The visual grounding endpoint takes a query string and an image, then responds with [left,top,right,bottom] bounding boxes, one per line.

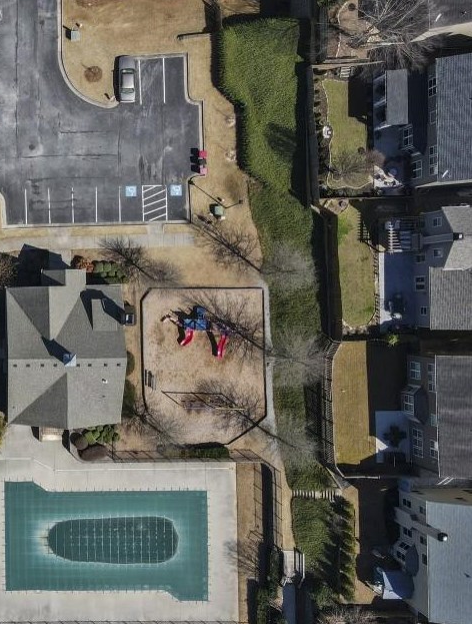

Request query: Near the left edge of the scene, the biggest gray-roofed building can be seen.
[7,269,137,430]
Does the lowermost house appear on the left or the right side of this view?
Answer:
right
